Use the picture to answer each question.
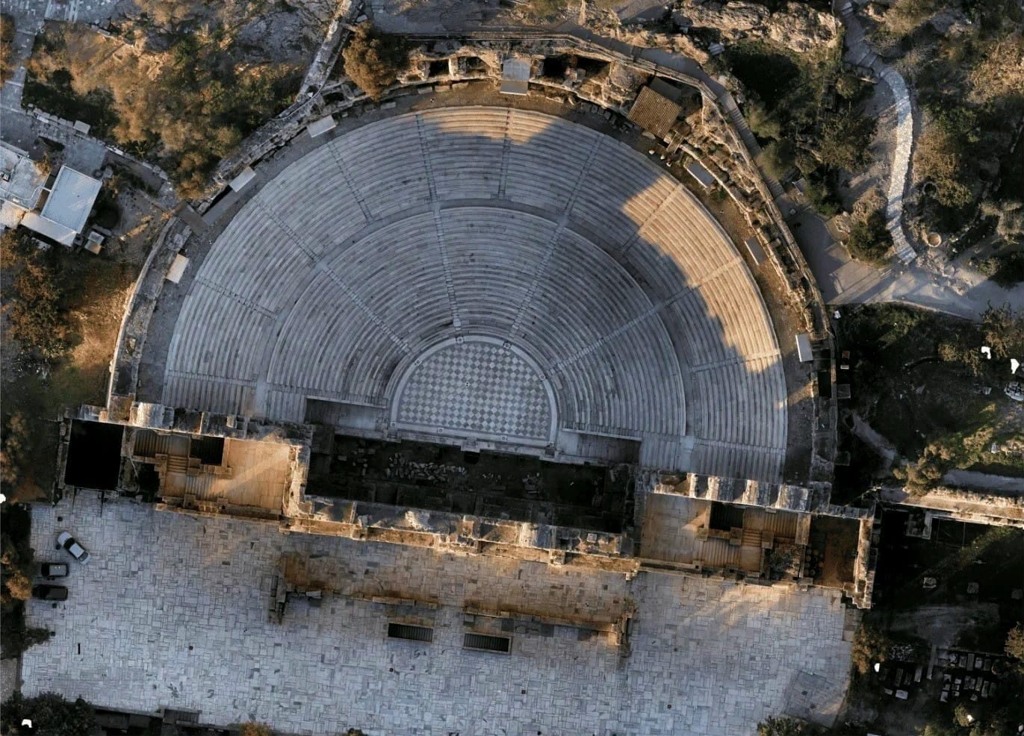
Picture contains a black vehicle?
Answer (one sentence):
Yes, looking at the shot, I can spot a black vehicle.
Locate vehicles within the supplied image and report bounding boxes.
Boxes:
[39,562,72,580]
[32,584,70,603]
[57,530,91,564]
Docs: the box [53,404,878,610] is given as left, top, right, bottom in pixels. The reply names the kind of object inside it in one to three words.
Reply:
building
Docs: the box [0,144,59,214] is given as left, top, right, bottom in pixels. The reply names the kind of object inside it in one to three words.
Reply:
house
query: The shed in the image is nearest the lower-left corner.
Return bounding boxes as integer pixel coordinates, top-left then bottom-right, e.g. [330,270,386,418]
[94,706,166,735]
